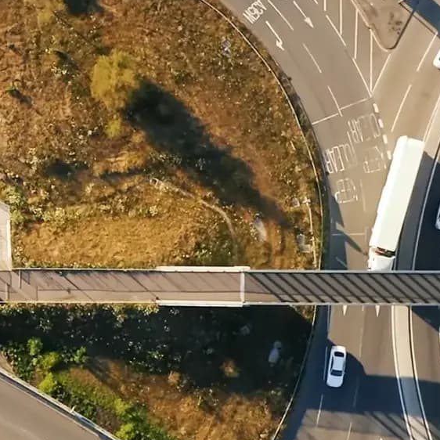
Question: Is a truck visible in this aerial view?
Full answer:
Yes, there's a truck here.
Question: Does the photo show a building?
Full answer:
No, I find no building anywhere in the image.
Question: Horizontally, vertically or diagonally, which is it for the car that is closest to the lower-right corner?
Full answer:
The car that is closest to the lower-right corner is oriented vertically.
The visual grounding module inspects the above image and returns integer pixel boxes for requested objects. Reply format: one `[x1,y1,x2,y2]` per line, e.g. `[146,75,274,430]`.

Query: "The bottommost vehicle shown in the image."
[327,346,347,388]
